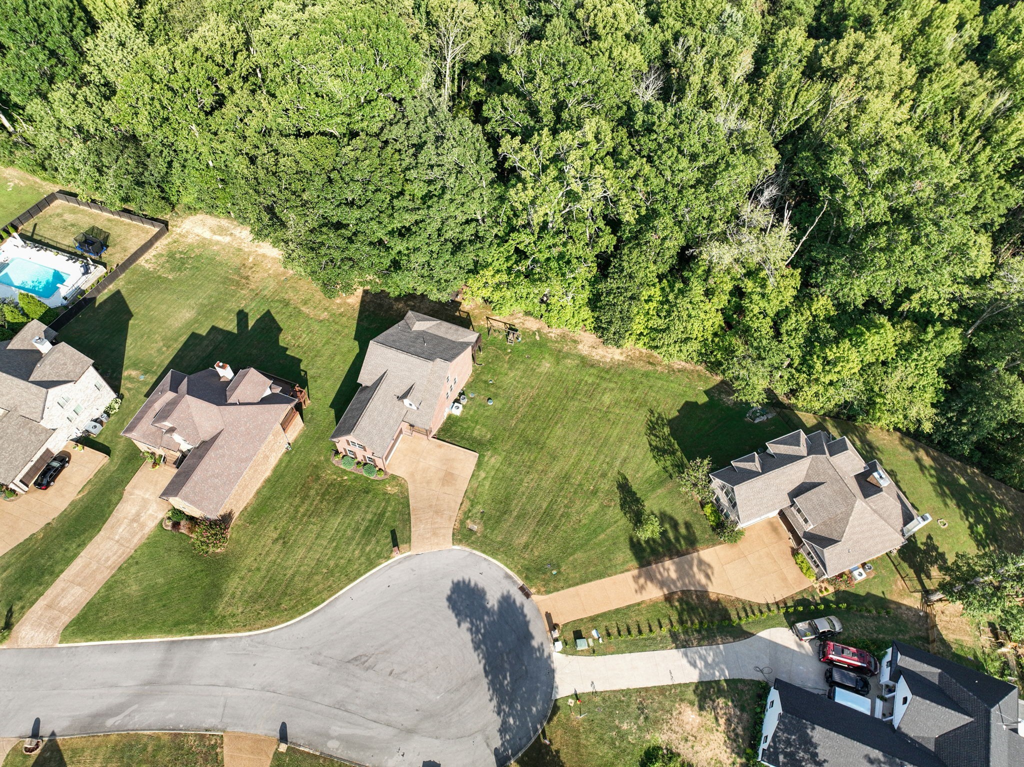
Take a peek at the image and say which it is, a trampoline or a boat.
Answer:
trampoline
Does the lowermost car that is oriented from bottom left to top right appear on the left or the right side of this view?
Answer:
left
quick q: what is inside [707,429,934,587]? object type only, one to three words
house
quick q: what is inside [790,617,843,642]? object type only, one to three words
truck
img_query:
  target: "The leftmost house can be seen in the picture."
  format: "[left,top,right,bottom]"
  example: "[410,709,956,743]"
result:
[0,318,116,493]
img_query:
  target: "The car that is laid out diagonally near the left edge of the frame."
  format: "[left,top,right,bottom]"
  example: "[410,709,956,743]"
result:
[31,455,72,492]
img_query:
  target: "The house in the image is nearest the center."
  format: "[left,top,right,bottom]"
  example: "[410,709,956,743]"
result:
[329,310,482,471]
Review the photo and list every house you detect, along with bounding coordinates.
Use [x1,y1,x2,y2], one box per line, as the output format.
[0,318,116,493]
[120,360,309,527]
[707,429,934,587]
[758,640,1024,767]
[329,310,482,471]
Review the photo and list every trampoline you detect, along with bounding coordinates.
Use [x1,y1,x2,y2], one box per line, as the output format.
[70,234,108,263]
